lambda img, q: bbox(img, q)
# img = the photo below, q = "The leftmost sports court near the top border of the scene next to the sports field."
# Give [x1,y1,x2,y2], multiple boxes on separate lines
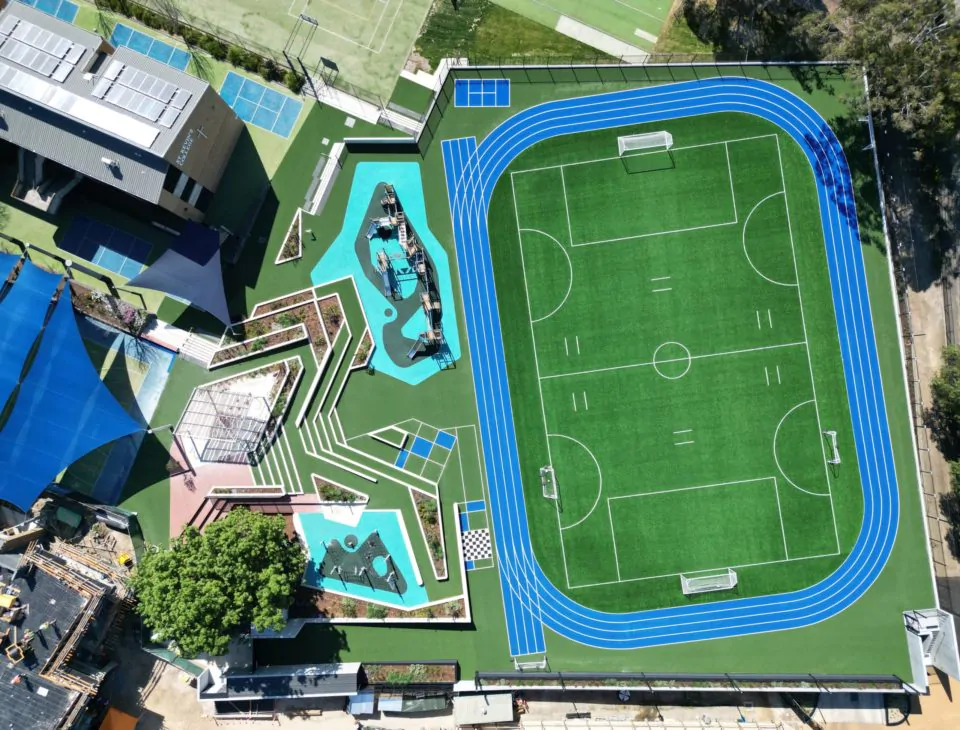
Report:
[133,0,434,109]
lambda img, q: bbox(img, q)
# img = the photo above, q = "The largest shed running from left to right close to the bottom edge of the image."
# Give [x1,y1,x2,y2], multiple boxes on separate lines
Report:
[197,660,361,701]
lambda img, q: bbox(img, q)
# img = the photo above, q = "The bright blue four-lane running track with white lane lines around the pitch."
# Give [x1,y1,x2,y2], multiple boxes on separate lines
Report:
[439,76,897,656]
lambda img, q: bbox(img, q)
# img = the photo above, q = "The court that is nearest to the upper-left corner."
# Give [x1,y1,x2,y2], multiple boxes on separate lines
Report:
[38,0,80,24]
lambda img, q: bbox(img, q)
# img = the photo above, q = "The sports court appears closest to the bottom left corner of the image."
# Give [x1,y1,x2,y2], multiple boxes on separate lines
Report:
[0,302,179,506]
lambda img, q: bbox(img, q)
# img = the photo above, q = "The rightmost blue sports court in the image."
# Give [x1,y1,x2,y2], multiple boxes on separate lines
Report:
[454,79,510,108]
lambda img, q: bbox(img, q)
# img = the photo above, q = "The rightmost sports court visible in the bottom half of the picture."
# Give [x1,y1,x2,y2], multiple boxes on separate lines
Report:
[395,418,487,531]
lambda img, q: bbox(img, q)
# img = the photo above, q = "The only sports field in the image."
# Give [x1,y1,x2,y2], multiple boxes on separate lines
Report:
[487,112,862,615]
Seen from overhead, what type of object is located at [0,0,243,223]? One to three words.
building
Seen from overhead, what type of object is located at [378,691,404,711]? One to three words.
shed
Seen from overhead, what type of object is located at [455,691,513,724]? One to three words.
building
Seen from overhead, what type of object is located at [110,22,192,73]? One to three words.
sports court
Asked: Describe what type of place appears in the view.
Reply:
sports ground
